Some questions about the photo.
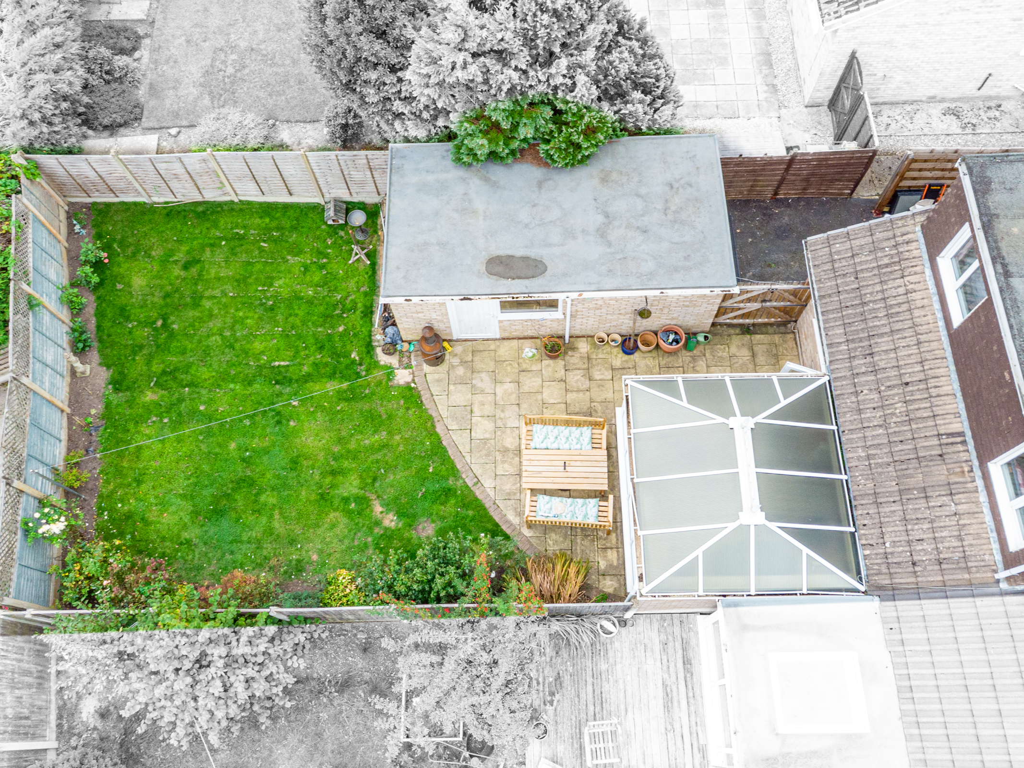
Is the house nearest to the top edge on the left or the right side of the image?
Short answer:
right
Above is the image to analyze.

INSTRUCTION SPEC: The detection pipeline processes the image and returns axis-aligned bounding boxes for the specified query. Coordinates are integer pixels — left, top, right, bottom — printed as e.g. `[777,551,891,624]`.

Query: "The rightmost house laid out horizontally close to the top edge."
[785,0,1024,105]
